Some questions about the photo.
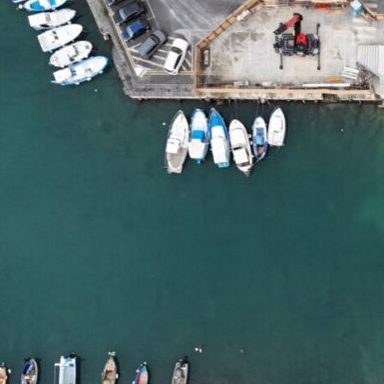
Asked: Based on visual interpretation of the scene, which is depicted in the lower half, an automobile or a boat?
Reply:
boat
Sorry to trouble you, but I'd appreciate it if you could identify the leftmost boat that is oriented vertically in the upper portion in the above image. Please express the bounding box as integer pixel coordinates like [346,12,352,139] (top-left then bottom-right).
[165,100,190,175]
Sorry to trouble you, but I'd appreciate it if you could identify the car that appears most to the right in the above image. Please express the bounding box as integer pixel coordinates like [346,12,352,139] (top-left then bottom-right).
[165,40,190,74]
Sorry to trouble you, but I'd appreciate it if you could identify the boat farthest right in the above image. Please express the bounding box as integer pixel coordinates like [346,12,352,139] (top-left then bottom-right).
[268,100,288,147]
